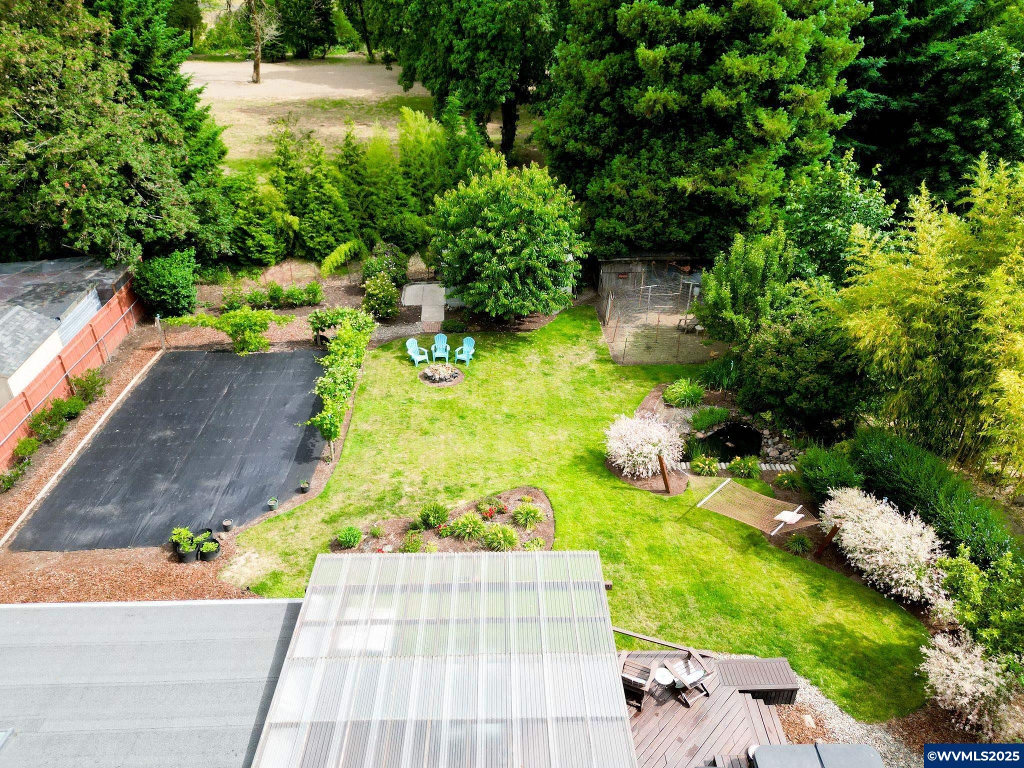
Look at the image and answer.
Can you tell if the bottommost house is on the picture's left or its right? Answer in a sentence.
It is on the left.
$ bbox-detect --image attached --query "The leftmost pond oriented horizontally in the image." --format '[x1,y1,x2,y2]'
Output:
[675,409,808,467]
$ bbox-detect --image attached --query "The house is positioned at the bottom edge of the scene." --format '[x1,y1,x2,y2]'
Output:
[0,600,301,768]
